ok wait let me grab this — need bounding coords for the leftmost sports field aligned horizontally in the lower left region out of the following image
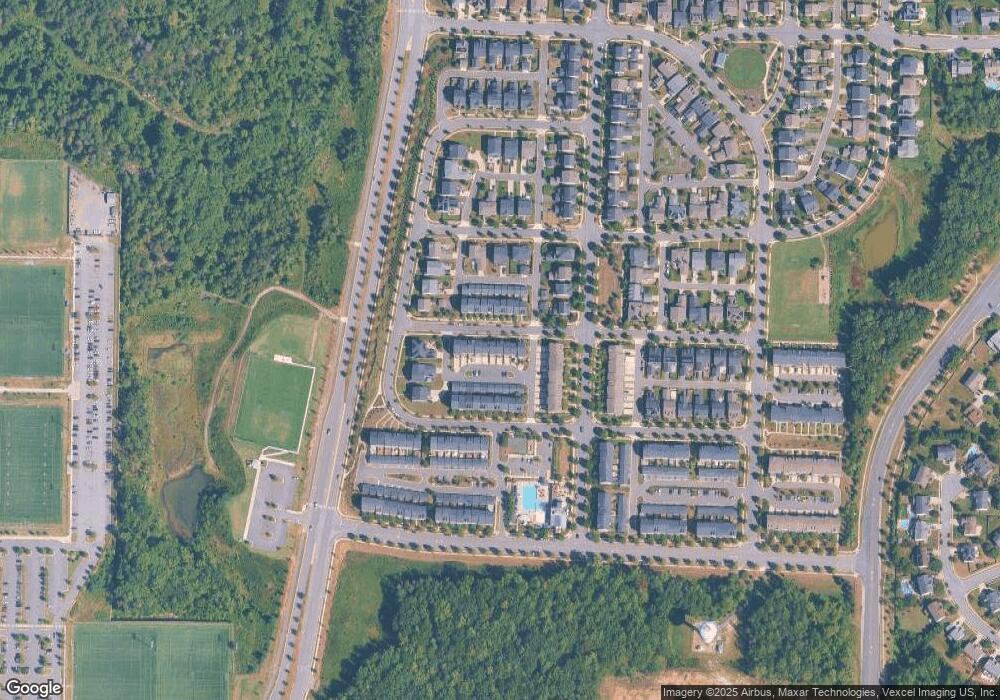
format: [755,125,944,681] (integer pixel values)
[74,623,230,700]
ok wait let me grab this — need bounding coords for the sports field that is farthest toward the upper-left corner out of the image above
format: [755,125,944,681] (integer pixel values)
[0,160,68,242]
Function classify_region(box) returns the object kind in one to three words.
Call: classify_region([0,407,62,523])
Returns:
sports field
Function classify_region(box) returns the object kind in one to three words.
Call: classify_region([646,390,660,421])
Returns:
house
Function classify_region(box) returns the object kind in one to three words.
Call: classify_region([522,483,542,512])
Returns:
swimming pool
